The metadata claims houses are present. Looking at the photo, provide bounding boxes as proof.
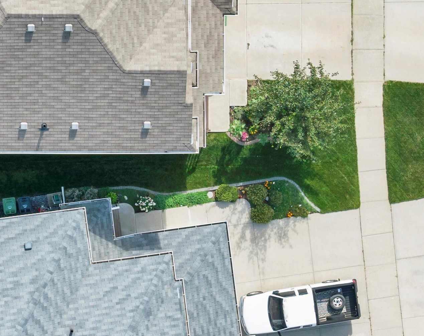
[0,189,257,336]
[0,0,239,155]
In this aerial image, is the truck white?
Yes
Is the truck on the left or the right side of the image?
right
